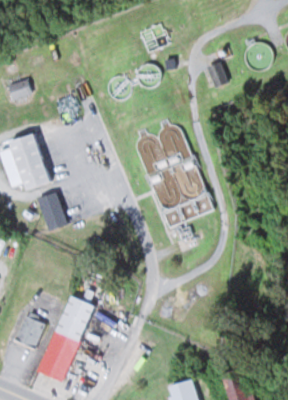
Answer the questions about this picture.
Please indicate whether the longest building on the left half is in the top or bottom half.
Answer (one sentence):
Seen from above, the longest building on the left half lies in the bottom half of the view.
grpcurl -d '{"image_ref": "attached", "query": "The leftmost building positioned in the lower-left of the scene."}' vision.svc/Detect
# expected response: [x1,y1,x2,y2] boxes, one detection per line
[16,316,46,348]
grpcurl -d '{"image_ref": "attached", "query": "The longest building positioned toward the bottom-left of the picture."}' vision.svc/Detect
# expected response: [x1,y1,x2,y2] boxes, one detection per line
[38,296,96,382]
